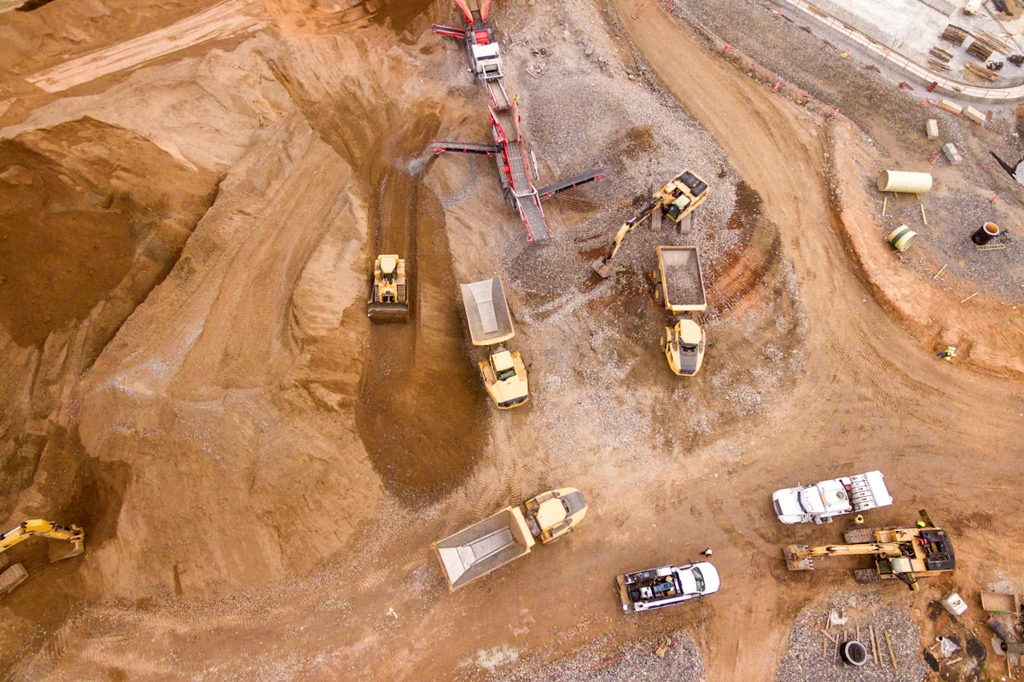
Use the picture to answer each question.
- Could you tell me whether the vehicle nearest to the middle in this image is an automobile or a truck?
truck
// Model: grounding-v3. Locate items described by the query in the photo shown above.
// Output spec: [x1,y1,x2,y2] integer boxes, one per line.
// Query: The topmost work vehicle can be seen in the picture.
[589,171,710,275]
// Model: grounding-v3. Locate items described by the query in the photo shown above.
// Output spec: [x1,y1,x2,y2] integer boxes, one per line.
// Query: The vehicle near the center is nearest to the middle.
[464,273,533,411]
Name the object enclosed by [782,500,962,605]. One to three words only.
work vehicle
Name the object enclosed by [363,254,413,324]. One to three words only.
work vehicle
